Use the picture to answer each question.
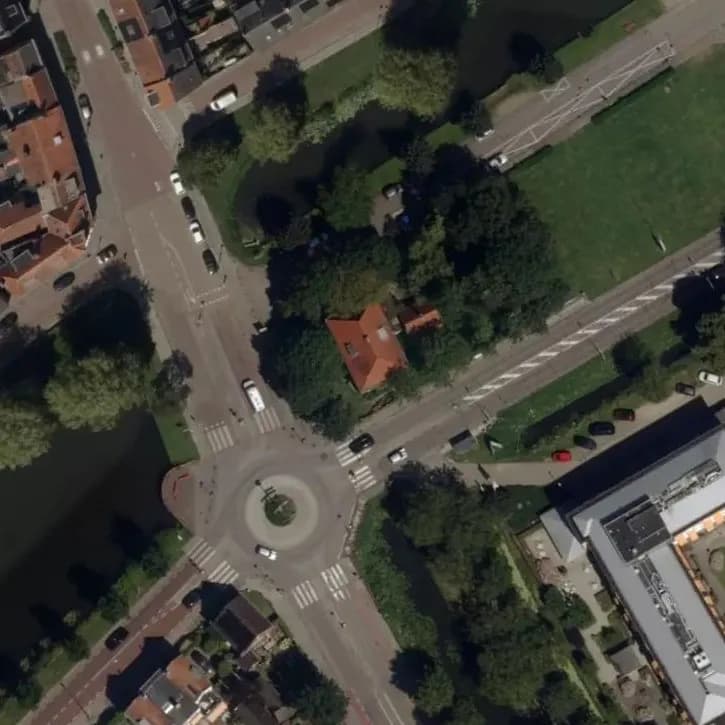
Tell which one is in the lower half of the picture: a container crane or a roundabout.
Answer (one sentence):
The feature located in the lower half of the picture is a roundabout.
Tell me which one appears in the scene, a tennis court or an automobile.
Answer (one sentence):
Visible in the photo is an automobile.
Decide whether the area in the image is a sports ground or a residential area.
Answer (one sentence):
It's a residential area.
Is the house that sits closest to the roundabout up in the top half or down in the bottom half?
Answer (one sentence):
The house that sits closest to the roundabout is in the bottom half of the image.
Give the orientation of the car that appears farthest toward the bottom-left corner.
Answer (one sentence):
The car that appears farthest toward the bottom-left corner is laid out at an angle.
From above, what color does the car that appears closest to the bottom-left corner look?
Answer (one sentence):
The car that appears closest to the bottom-left corner is black.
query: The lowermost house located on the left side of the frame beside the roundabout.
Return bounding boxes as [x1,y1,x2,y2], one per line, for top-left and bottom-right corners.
[215,593,272,654]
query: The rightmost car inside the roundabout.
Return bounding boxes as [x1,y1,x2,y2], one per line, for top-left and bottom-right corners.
[253,543,278,561]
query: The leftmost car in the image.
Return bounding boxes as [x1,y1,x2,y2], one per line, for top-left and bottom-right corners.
[0,311,21,331]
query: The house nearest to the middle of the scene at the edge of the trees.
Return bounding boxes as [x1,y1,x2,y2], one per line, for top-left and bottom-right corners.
[326,307,407,394]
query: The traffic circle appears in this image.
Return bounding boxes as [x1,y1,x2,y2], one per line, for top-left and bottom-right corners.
[207,437,355,585]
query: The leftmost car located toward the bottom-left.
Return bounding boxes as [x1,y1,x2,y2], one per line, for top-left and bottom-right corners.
[103,626,130,651]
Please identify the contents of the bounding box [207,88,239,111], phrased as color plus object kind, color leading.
white vehicle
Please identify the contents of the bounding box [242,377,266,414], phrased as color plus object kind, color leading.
white vehicle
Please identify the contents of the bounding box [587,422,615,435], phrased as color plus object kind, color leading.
black vehicle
